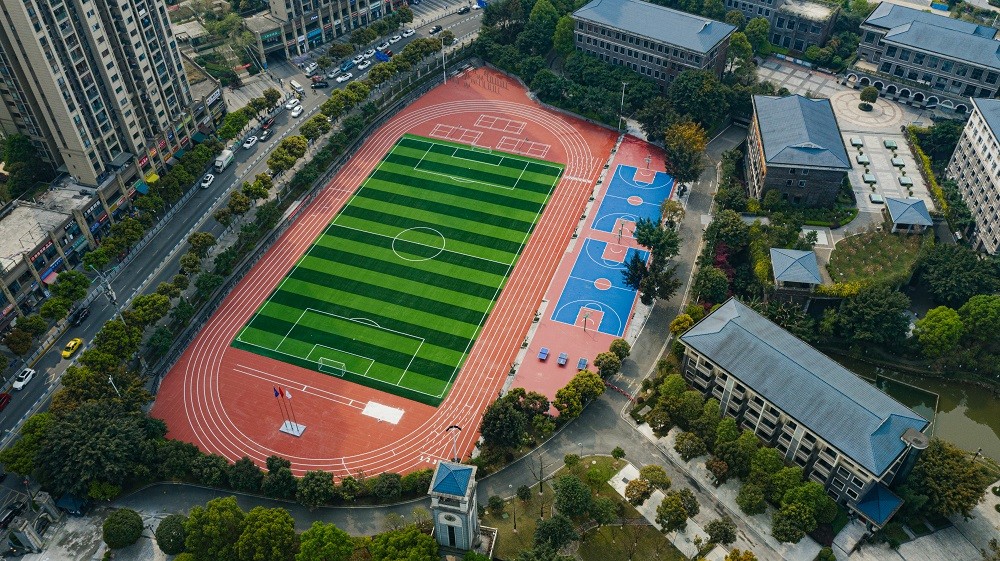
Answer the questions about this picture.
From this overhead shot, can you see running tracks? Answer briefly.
Yes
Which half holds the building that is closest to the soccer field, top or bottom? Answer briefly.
bottom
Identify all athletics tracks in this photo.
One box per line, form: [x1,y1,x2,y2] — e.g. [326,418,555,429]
[153,68,623,491]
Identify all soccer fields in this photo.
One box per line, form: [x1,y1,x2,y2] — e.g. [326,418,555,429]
[229,134,564,406]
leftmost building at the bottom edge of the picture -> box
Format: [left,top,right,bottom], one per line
[433,465,478,547]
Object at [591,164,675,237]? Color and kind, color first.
blue basketball court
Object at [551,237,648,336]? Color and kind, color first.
blue basketball court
